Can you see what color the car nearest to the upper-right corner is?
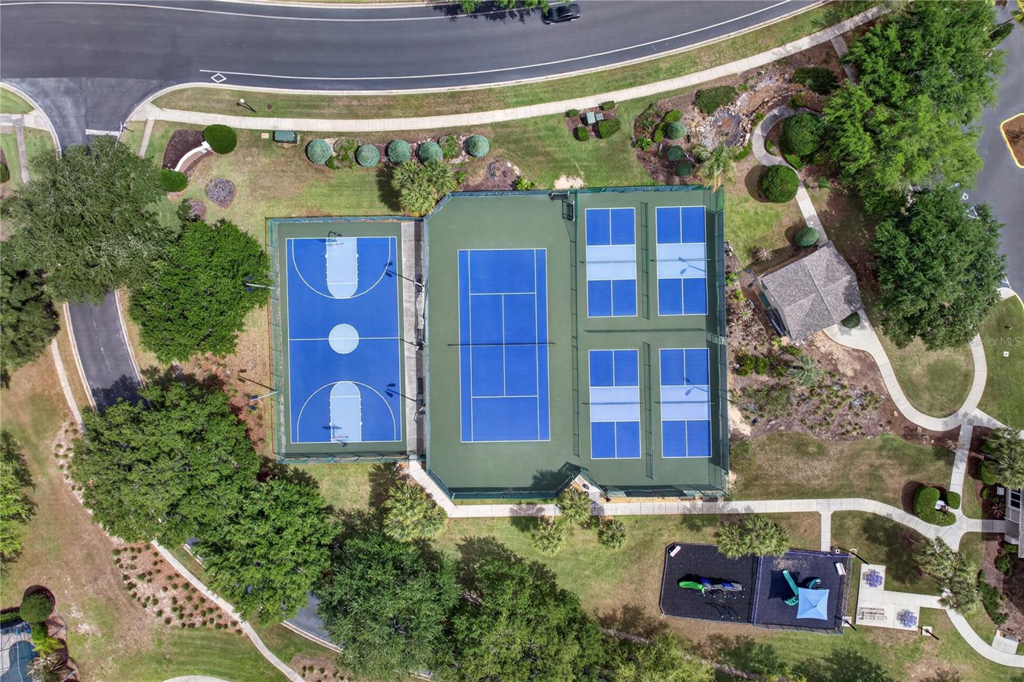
black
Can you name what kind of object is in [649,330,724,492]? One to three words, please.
sports court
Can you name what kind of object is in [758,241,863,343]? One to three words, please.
shed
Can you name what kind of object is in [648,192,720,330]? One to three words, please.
sports court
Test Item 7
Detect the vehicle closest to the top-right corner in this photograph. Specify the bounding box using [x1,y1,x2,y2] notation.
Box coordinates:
[541,3,580,25]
